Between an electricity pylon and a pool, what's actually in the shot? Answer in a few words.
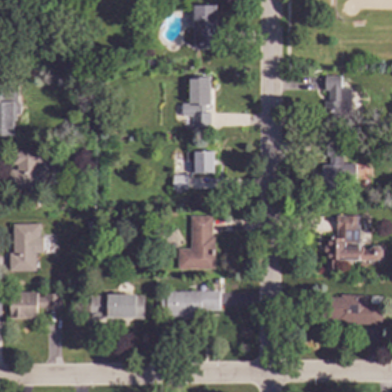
pool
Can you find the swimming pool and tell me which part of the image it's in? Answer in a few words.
top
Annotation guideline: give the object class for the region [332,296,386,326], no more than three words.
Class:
house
